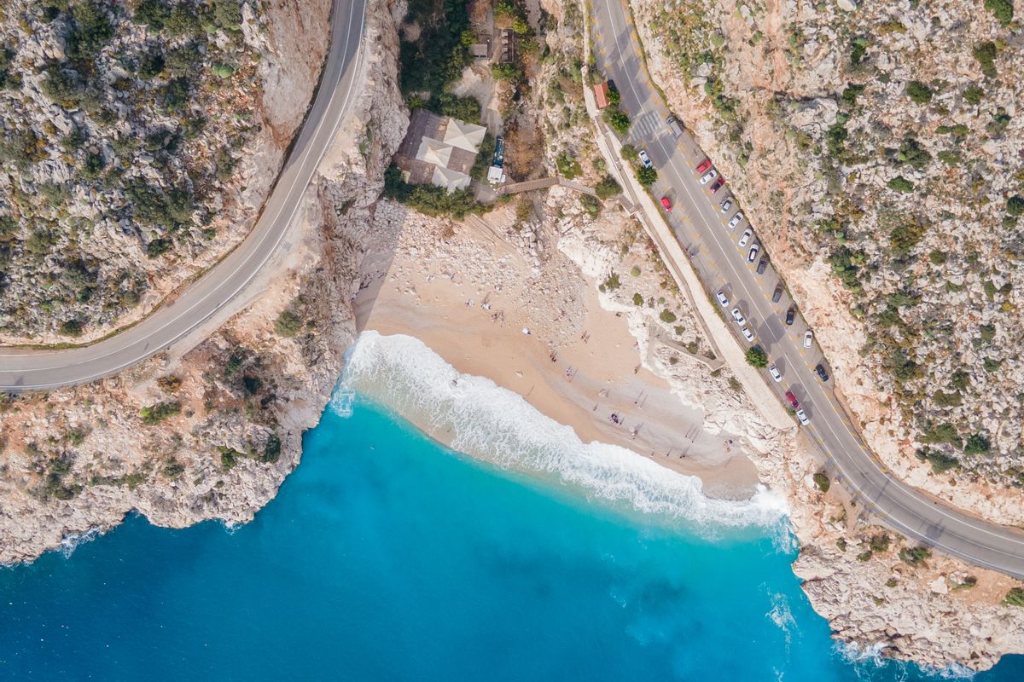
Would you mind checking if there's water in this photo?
Yes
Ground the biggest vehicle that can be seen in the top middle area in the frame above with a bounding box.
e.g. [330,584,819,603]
[486,136,505,183]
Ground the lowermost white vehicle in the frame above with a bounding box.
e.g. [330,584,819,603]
[796,408,810,426]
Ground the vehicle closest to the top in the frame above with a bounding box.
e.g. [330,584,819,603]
[667,117,684,138]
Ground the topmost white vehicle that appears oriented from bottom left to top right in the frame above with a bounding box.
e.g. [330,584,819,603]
[699,169,717,185]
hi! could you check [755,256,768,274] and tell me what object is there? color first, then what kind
gray vehicle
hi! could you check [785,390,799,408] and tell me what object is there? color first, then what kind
red car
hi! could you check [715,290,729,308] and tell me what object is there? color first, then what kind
white car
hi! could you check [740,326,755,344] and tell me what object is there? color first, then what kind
white car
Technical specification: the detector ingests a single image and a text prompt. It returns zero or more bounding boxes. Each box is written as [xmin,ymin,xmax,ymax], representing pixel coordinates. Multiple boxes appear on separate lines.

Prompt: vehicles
[784,307,795,324]
[659,196,672,213]
[746,244,759,261]
[785,390,799,408]
[770,286,783,303]
[699,169,717,185]
[486,136,505,183]
[769,365,783,383]
[731,308,746,326]
[639,150,653,168]
[796,408,810,426]
[709,178,725,192]
[801,331,812,348]
[755,256,768,274]
[737,229,752,246]
[740,326,755,344]
[667,117,684,138]
[719,197,734,213]
[727,211,742,228]
[695,159,712,173]
[814,364,829,382]
[715,290,729,308]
